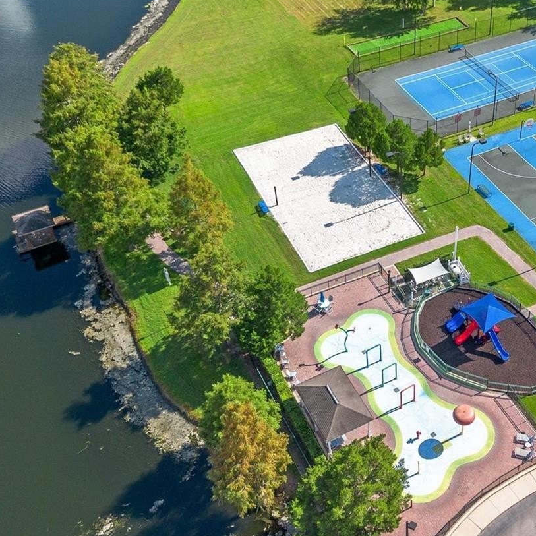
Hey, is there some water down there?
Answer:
Yes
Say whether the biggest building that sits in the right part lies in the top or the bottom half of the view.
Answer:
bottom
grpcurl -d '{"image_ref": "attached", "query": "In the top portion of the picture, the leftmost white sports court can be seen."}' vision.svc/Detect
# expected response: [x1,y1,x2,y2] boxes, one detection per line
[233,122,426,275]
